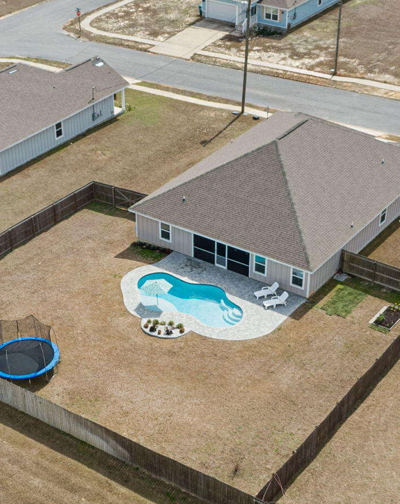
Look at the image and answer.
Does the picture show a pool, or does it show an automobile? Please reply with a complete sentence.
There is a pool in the scene.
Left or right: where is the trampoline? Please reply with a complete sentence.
The trampoline appears in the left half of the scene.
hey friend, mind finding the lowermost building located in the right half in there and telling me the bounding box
[128,111,400,299]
